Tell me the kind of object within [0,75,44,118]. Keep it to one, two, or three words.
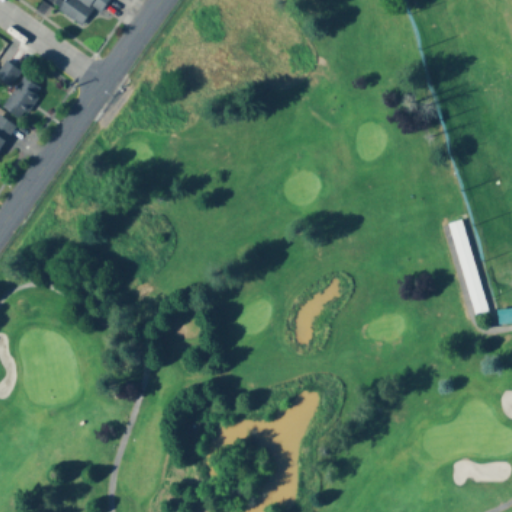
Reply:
house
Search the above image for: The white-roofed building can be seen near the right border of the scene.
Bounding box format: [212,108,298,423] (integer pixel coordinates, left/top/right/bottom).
[449,219,490,314]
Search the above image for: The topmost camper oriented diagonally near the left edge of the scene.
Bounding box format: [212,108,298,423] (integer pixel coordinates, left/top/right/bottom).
[6,26,28,44]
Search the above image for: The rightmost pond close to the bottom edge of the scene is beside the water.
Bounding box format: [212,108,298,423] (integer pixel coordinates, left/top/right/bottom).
[220,390,320,512]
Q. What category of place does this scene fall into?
golf course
